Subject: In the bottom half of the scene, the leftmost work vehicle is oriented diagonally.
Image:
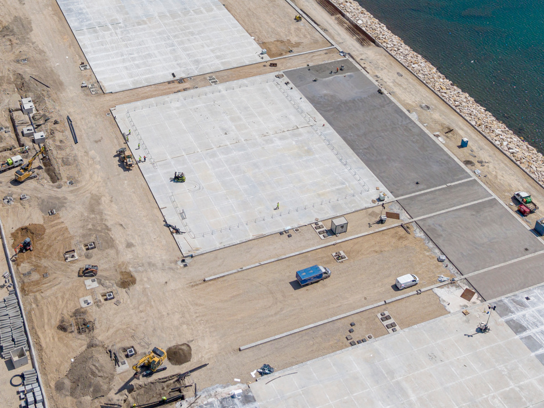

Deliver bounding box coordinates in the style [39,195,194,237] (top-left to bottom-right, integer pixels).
[9,239,33,262]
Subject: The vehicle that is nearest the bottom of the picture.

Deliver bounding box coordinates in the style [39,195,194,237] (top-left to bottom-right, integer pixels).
[115,346,171,382]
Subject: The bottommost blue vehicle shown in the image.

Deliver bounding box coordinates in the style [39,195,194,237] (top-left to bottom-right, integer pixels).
[294,260,329,285]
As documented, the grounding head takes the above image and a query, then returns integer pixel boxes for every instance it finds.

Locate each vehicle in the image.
[9,239,33,262]
[292,14,302,22]
[514,187,542,208]
[393,272,421,289]
[74,263,99,278]
[169,170,187,184]
[16,143,49,180]
[294,260,329,285]
[115,346,171,382]
[0,152,24,170]
[119,148,139,172]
